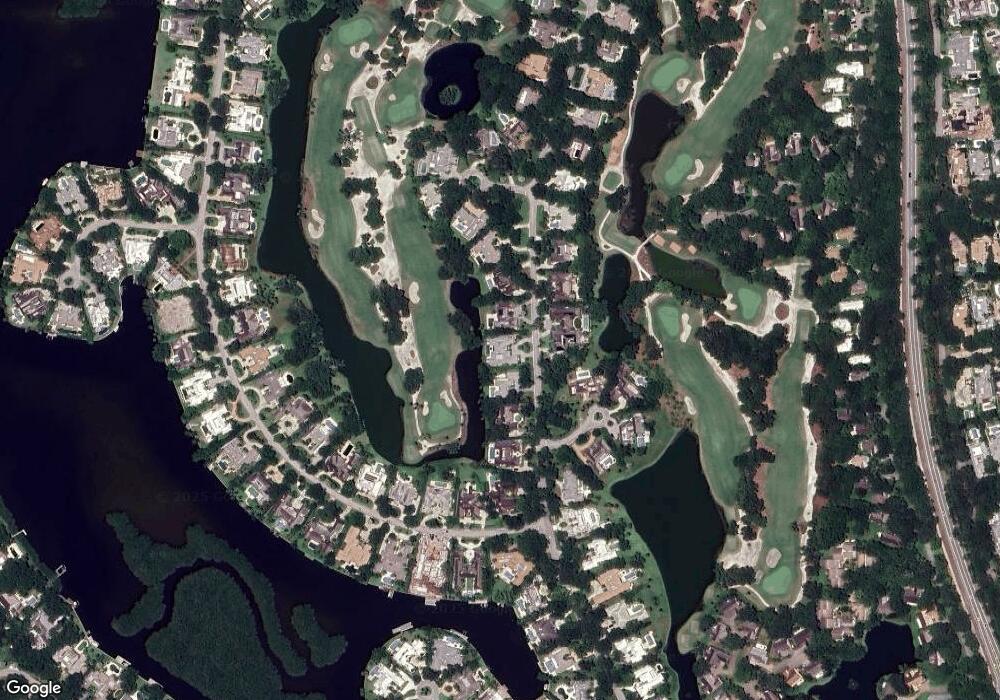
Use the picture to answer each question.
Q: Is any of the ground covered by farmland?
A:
No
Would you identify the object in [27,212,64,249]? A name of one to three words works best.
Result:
house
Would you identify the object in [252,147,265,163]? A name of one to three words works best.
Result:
swimming pool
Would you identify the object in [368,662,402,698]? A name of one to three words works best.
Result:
house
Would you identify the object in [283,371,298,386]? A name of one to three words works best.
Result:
swimming pool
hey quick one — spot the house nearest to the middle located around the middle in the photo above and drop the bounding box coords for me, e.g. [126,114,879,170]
[481,332,521,366]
